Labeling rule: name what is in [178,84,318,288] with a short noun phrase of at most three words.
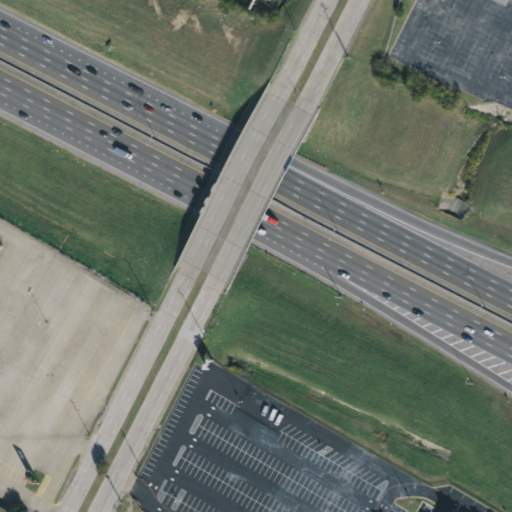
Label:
bridge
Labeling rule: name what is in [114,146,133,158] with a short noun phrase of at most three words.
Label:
vehicle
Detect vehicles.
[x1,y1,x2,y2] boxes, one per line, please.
[262,406,269,416]
[263,215,279,226]
[114,146,133,158]
[173,190,184,198]
[99,131,110,139]
[130,85,143,94]
[68,66,81,74]
[484,329,494,336]
[42,35,53,43]
[161,104,172,112]
[338,270,350,278]
[122,100,133,108]
[112,129,123,137]
[192,113,202,122]
[86,66,98,74]
[18,111,29,119]
[256,228,268,237]
[463,334,474,342]
[270,409,277,422]
[412,308,423,316]
[144,104,154,112]
[464,326,475,334]
[0,22,11,30]
[276,414,284,426]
